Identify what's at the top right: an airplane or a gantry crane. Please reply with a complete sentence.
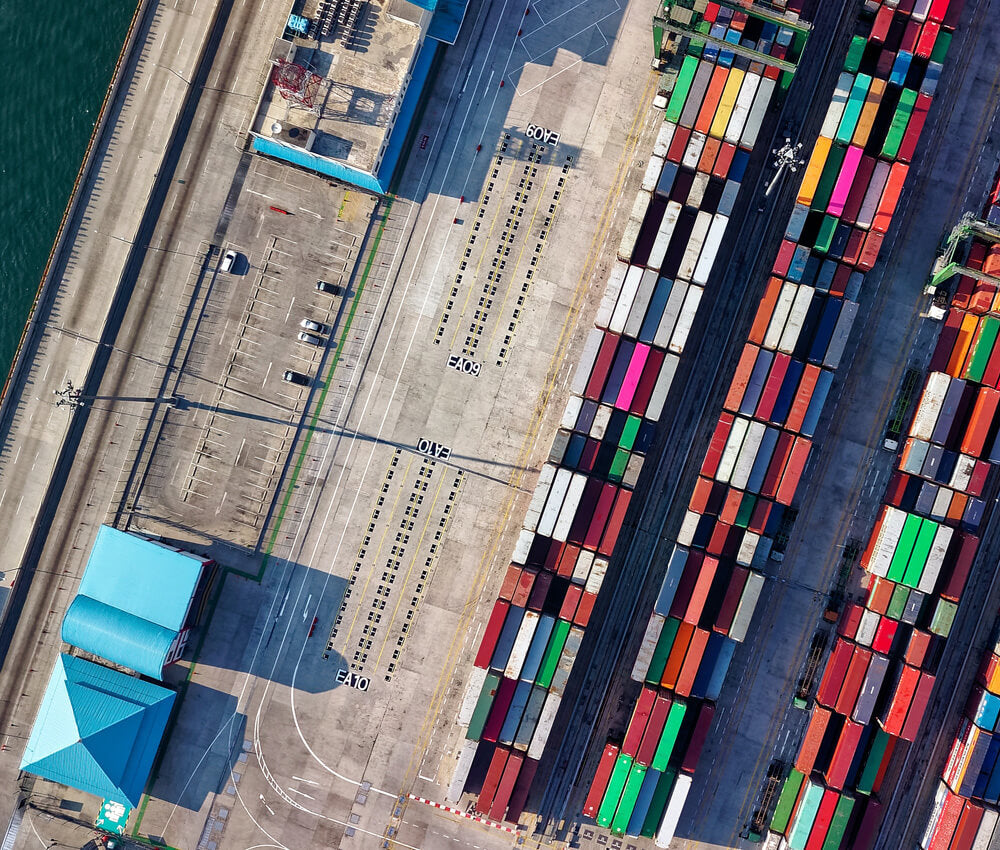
Visible at the top right is a gantry crane.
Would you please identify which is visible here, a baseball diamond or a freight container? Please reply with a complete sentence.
The image shows a freight container.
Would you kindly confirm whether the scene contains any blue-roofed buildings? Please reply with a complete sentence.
Yes, I can see a blue-roofed building in this picture.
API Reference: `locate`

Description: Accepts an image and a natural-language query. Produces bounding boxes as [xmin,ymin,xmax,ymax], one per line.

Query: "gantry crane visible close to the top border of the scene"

[648,0,816,108]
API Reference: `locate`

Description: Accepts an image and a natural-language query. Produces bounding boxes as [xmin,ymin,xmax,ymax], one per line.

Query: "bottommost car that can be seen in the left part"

[283,370,309,386]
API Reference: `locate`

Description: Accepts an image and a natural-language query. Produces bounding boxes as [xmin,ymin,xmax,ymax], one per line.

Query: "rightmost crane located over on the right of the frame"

[922,220,1000,290]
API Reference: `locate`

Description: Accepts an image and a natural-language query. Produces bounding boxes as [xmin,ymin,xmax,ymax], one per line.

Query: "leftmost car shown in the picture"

[220,249,237,275]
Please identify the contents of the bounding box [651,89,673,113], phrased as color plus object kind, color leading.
white truck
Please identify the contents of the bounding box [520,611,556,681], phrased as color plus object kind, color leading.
blue shipping container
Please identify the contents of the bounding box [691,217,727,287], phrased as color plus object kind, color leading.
white shipping container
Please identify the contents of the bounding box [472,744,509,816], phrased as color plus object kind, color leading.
red shipping container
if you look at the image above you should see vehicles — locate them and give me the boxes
[298,331,322,347]
[316,280,341,296]
[743,764,782,843]
[879,373,919,452]
[220,249,237,275]
[820,544,859,623]
[791,630,830,709]
[283,370,309,386]
[651,89,673,113]
[301,319,325,334]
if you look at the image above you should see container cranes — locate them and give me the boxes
[922,220,1000,290]
[648,0,816,108]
